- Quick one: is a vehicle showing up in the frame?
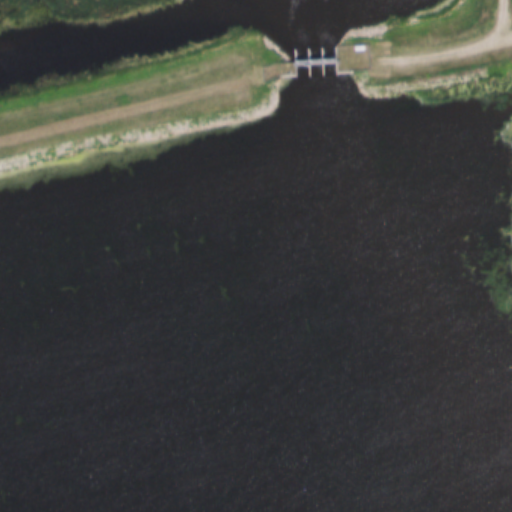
No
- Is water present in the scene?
Yes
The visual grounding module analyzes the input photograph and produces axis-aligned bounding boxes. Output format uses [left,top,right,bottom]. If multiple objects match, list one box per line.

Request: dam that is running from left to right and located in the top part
[282,46,355,79]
